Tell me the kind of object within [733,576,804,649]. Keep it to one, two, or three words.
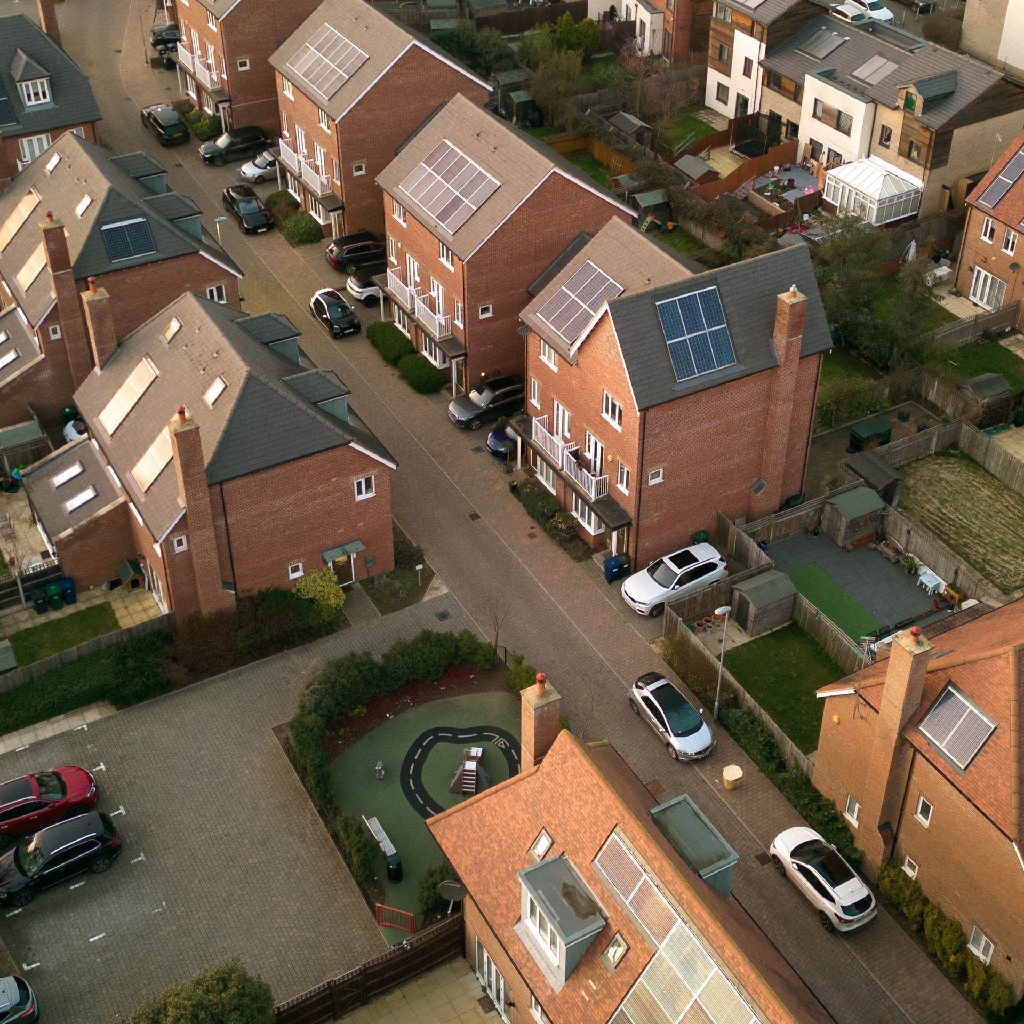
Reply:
shed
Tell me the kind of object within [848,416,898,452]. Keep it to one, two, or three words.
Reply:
building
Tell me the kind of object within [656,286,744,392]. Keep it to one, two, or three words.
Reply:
solar array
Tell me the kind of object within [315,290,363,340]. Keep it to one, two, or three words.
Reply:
car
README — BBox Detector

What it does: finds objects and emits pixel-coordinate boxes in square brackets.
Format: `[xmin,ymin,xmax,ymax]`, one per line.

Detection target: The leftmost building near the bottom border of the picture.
[422,672,834,1024]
